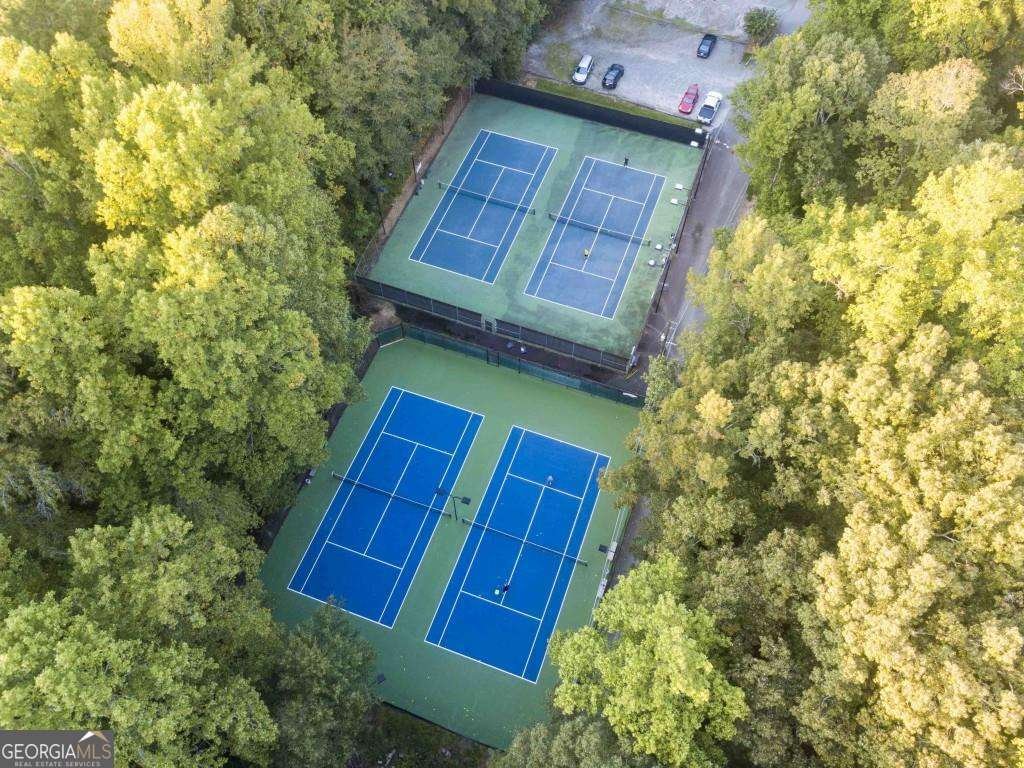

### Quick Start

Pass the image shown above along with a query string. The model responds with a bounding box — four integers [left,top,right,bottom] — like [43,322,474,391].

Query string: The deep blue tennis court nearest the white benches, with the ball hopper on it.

[424,425,612,684]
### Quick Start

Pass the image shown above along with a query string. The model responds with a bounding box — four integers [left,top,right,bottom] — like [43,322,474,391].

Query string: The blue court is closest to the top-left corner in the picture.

[409,129,558,284]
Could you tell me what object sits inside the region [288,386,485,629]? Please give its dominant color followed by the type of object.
blue tennis court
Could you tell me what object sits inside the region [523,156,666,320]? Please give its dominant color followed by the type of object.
blue tennis court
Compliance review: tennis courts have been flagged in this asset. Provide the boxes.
[409,129,558,284]
[523,156,666,320]
[288,386,485,629]
[424,425,612,684]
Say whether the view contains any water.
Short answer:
No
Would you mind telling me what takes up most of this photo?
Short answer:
trees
